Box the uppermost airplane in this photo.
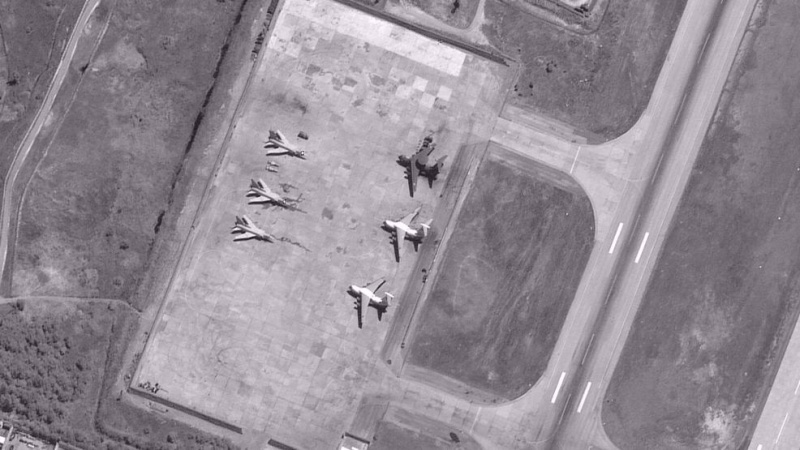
[265,129,307,158]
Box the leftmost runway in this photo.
[512,0,761,450]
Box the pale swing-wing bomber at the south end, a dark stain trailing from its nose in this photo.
[233,214,275,243]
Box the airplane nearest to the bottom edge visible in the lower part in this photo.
[348,277,397,327]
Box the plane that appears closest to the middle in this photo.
[384,208,433,258]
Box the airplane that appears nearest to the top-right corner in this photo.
[399,141,448,191]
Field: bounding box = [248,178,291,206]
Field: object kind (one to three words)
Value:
airplane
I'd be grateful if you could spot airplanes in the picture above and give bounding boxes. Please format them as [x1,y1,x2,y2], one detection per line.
[384,208,433,258]
[265,129,307,158]
[233,214,275,243]
[399,141,448,191]
[348,277,397,327]
[248,178,291,206]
